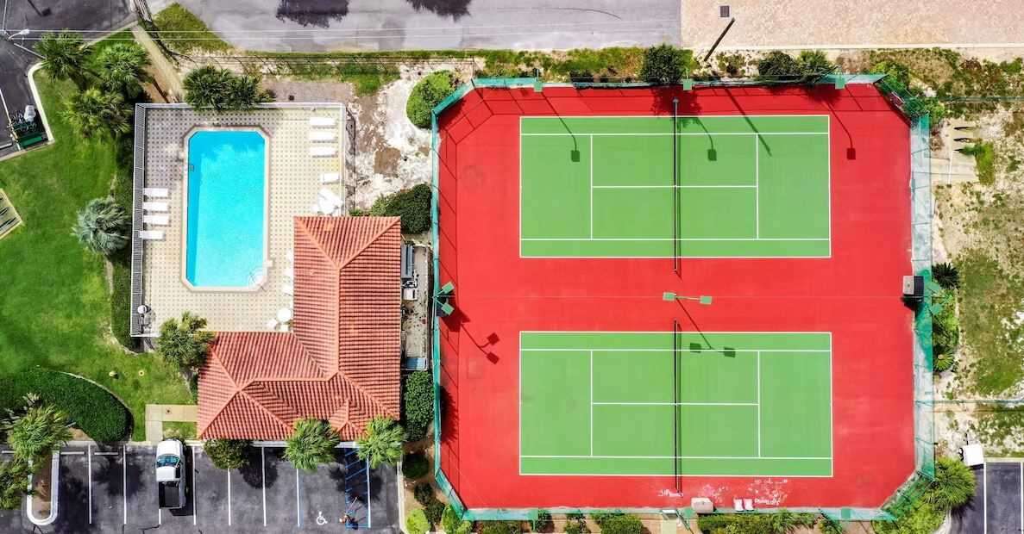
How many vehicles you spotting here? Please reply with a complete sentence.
There are 2 vehicles in the image.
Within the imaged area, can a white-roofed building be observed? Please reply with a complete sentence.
No, I find no white-roofed building anywhere in the image.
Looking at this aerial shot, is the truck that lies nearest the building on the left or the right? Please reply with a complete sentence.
The truck that lies nearest the building sits on the left side.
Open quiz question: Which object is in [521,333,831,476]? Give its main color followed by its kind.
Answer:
green tennis court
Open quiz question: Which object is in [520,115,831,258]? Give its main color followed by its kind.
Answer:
green tennis court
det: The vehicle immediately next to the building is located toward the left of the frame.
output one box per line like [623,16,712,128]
[150,439,189,511]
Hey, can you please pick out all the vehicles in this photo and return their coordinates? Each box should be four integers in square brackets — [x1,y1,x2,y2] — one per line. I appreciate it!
[952,435,985,467]
[150,439,189,511]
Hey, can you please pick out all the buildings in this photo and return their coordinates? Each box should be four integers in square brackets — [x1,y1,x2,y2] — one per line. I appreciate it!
[195,215,402,446]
